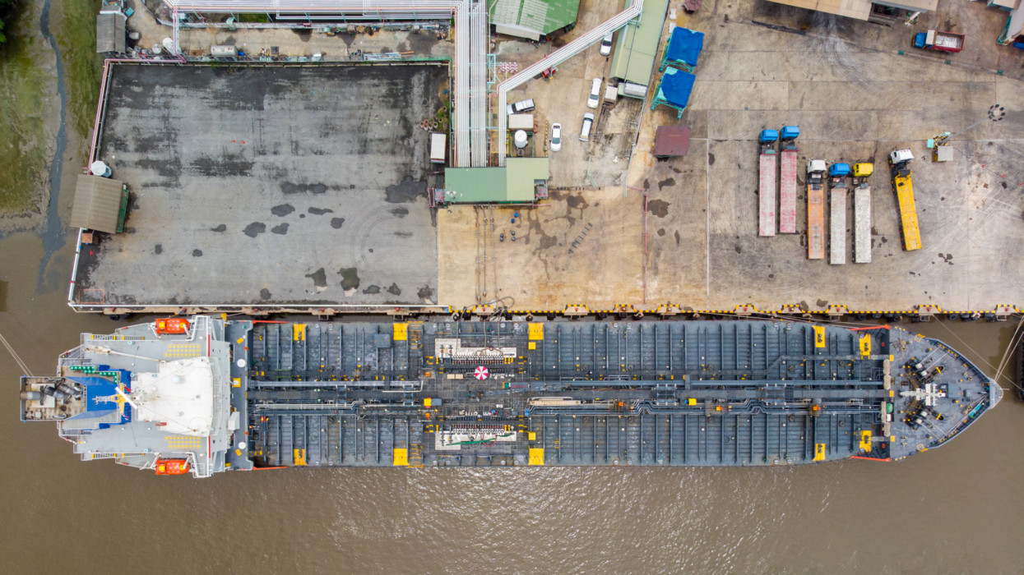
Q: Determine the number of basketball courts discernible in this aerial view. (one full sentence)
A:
No basketball courts are visible.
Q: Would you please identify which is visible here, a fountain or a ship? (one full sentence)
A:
Looking from above, you can make out a ship.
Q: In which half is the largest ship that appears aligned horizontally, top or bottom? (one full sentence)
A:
The largest ship that appears aligned horizontally is in the bottom half of the image.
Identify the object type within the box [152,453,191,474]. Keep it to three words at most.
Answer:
boat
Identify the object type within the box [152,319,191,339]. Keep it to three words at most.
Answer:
boat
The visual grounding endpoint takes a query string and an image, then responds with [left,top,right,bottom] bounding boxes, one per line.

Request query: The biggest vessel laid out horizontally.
[18,314,1009,476]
